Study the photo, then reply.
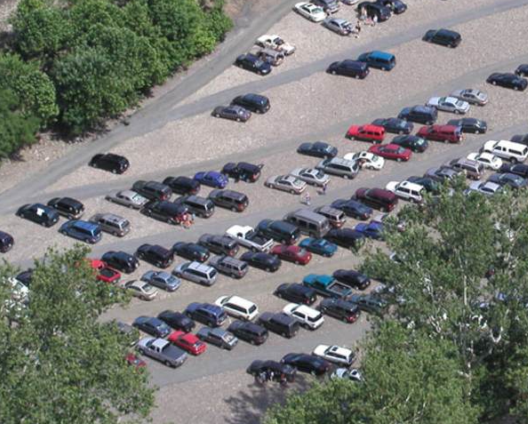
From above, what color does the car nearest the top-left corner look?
black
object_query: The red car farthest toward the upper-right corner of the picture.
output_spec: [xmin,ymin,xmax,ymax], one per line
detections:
[418,124,461,145]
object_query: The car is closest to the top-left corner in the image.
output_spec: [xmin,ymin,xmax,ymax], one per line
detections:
[89,152,129,175]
